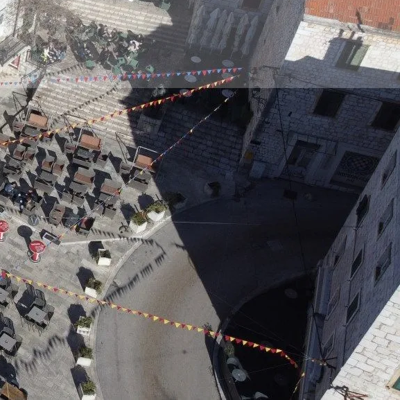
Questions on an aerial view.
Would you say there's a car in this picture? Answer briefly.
No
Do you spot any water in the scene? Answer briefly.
No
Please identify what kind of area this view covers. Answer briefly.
residential area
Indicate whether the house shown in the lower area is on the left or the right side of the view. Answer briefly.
right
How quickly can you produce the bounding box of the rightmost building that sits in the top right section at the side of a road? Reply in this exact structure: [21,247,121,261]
[248,0,400,196]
